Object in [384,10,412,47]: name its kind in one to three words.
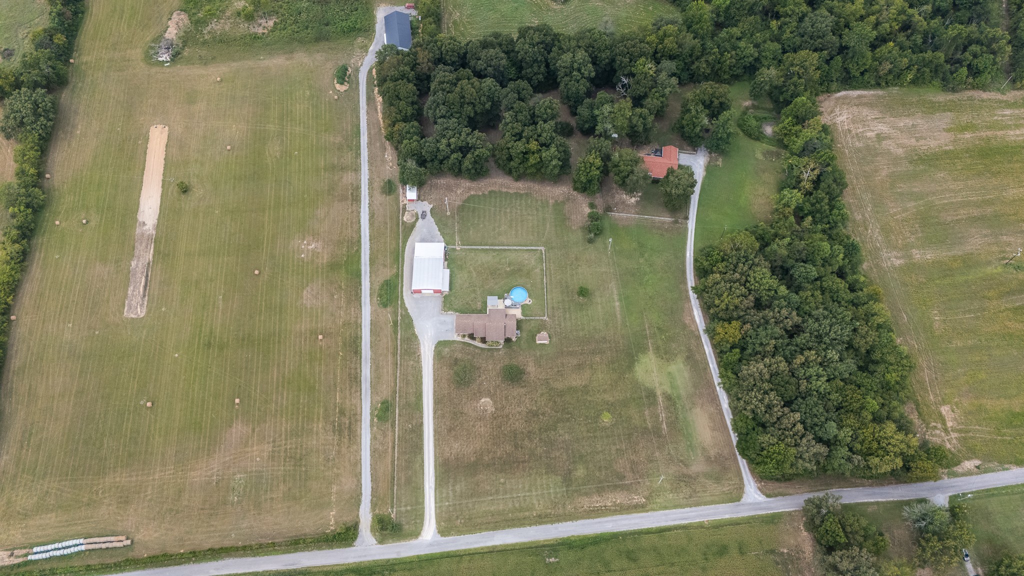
barn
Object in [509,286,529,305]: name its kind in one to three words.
swimming pool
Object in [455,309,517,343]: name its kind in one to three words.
house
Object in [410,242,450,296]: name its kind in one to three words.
barn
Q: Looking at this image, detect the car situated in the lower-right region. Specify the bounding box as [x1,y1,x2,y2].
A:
[959,547,972,563]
